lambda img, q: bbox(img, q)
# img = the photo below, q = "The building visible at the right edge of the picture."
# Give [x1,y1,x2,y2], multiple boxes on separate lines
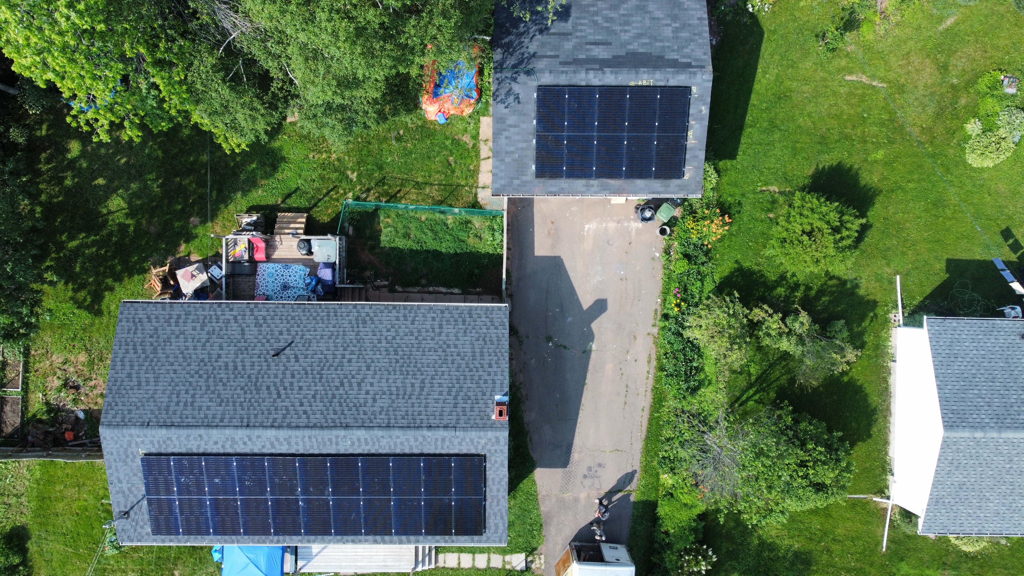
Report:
[888,315,1024,537]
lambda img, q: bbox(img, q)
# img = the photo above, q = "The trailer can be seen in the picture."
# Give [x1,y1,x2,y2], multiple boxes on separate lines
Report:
[554,541,636,576]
